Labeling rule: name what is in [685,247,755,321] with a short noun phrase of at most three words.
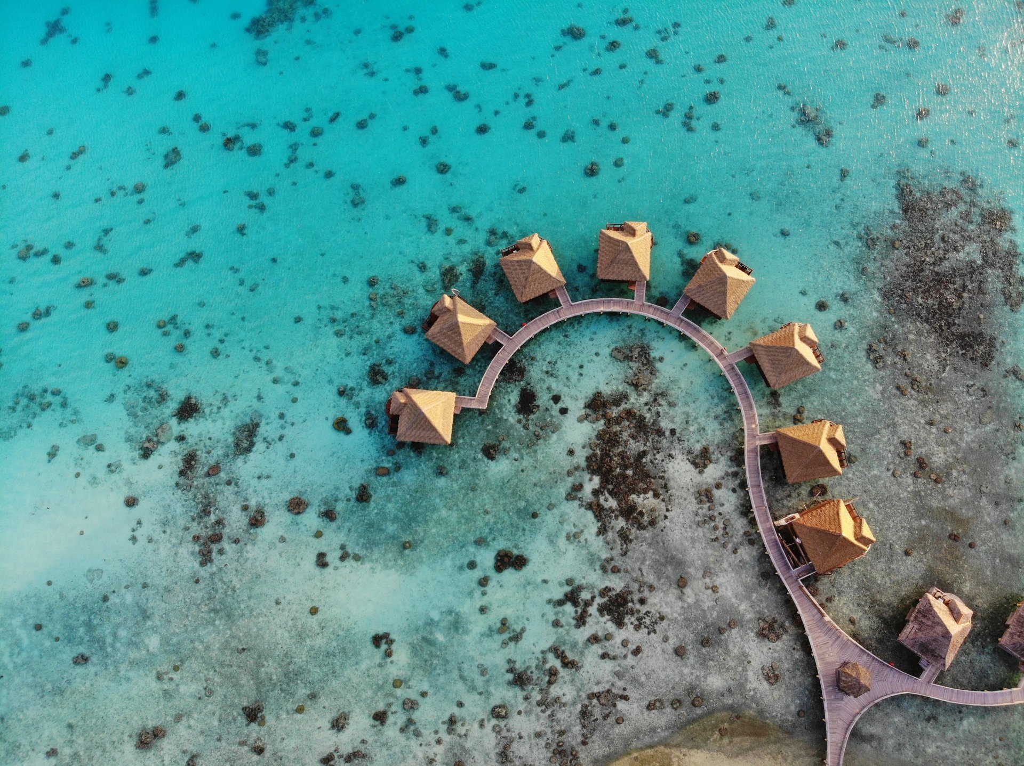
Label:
house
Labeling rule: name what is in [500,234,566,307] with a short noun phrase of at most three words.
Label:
house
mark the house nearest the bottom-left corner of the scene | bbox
[389,386,465,444]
